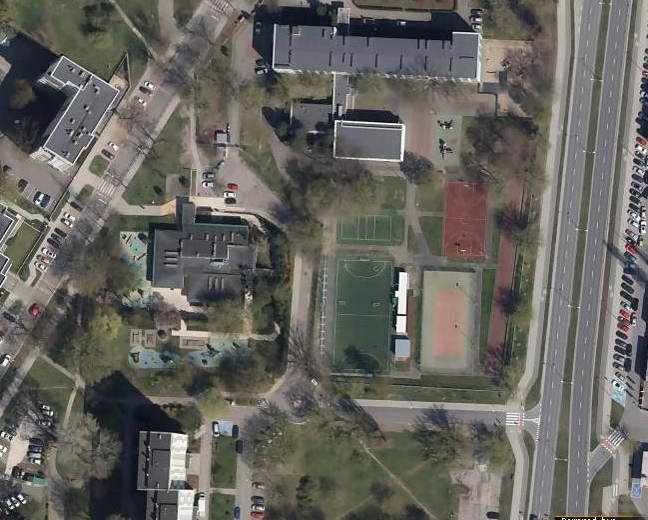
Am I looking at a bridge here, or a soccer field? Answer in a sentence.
There is a soccer field in the scene.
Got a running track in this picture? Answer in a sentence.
Yes, I can see a running track in this picture.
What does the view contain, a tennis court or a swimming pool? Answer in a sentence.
Visible in the photo is a tennis court.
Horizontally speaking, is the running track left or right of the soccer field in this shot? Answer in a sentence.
Looking at the photo, the running track lies to the right of the soccer field.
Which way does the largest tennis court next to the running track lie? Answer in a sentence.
In this picture, the largest tennis court next to the running track lies up and down.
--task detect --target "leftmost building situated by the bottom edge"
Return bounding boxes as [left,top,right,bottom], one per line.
[136,432,200,520]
